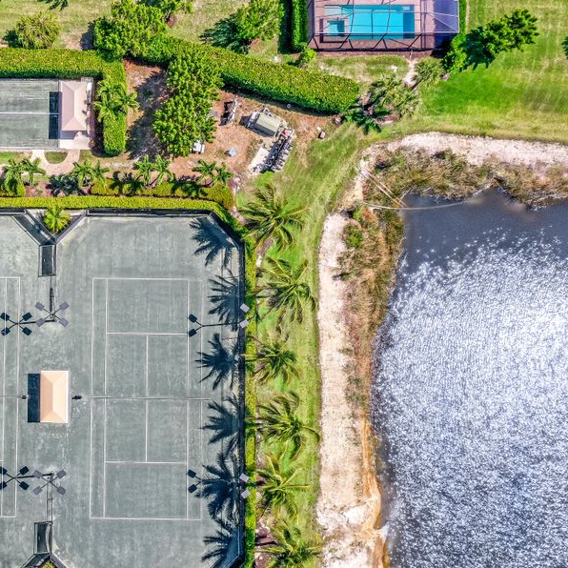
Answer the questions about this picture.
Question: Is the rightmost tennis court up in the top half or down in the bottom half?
bottom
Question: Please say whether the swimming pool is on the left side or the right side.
right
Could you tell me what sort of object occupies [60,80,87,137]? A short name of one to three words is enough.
building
